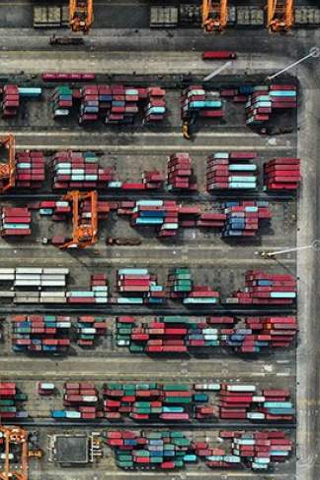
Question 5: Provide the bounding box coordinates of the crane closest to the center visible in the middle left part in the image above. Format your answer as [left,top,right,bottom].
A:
[54,191,97,249]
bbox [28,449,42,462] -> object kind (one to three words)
vehicle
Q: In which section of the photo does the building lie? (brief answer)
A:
bottom left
